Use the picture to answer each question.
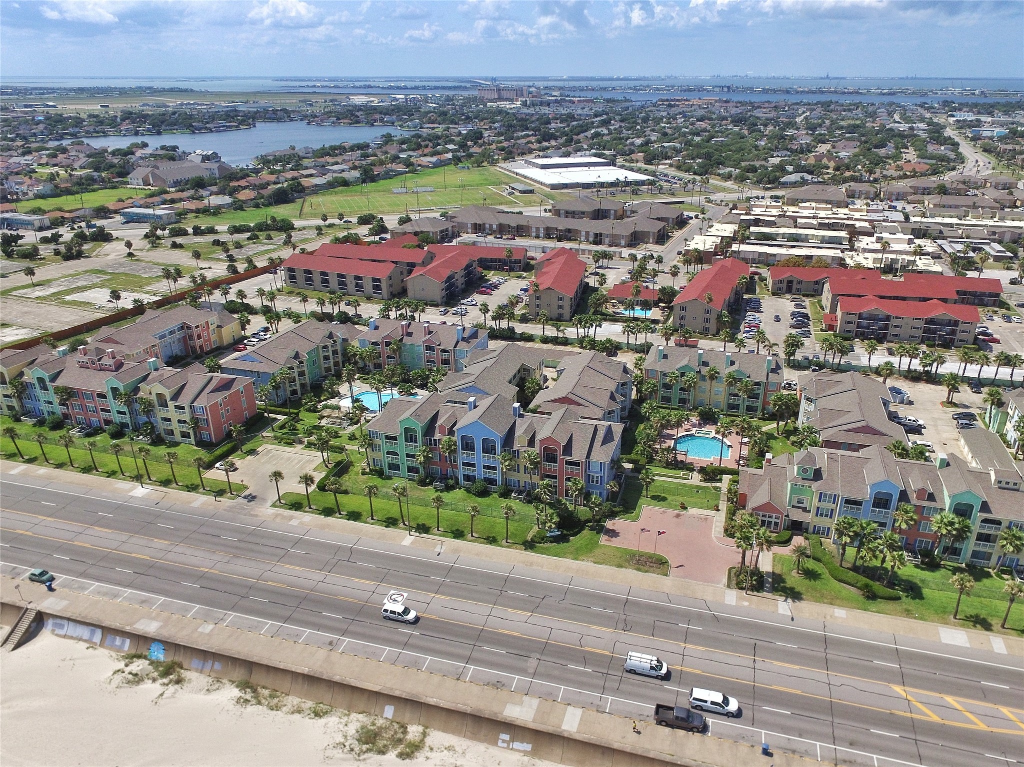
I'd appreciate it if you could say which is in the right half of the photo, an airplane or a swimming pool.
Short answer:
swimming pool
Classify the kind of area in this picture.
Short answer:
residential area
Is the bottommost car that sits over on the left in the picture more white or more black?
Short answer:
white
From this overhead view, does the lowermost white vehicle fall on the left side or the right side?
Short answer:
right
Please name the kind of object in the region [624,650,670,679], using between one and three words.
vehicle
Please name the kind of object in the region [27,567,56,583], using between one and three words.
car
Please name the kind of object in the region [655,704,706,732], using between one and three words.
vehicle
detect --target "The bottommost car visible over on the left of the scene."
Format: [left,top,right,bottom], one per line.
[381,600,418,622]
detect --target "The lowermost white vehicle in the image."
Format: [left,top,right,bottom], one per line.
[690,687,740,717]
